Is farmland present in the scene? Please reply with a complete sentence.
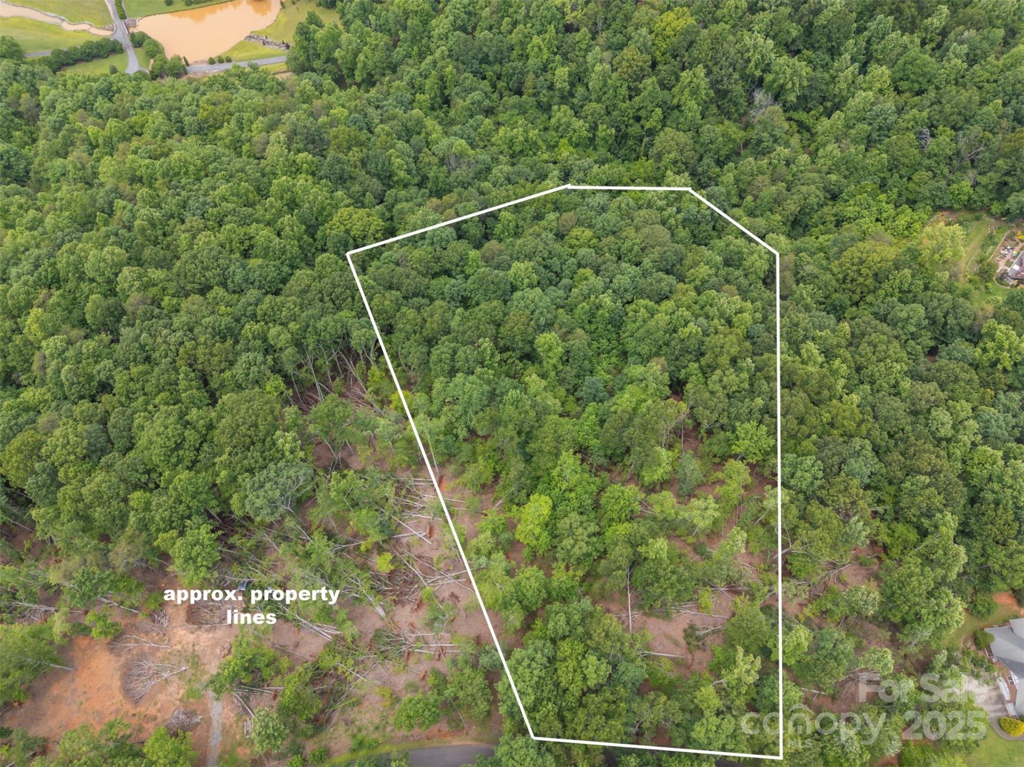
No, farmland can't be seen anywhere here.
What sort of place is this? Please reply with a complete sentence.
The picture captures a forest.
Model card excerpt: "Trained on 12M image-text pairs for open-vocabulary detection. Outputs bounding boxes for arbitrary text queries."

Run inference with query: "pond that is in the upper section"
[138,0,283,62]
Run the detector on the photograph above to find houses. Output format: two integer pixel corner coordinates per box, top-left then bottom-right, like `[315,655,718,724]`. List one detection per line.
[1002,252,1024,293]
[984,619,1024,720]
